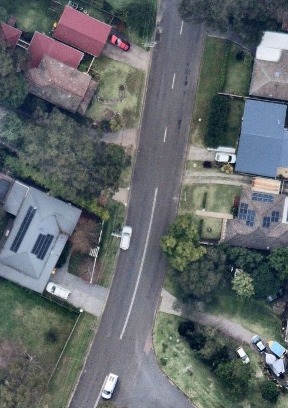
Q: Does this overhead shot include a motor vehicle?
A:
Yes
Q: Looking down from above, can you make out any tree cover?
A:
Yes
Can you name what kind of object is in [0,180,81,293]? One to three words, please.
house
